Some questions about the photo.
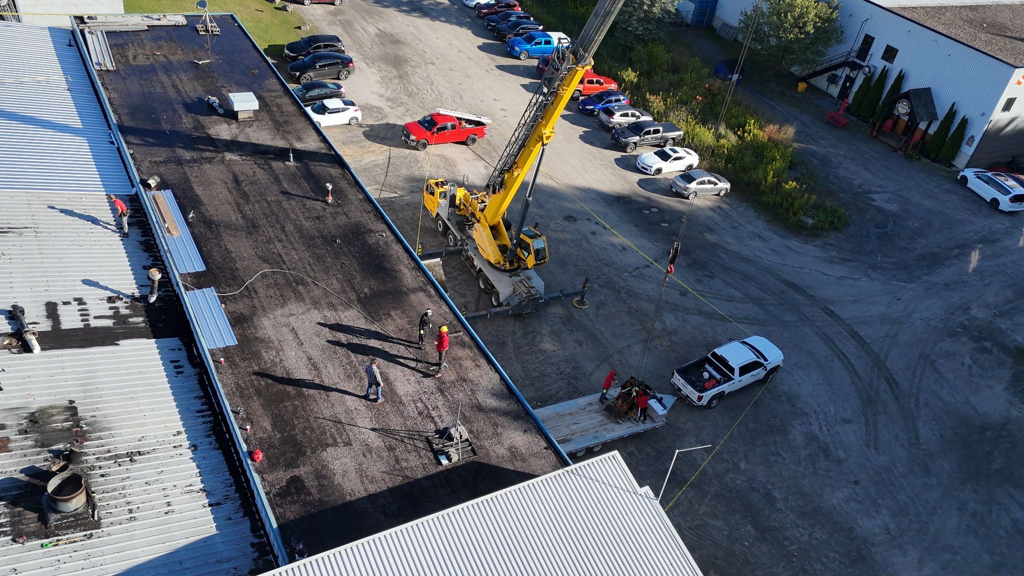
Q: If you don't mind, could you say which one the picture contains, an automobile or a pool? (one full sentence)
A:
I can see an automobile in this picture.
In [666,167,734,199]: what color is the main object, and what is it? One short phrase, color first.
gray car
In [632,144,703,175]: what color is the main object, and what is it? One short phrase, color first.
white car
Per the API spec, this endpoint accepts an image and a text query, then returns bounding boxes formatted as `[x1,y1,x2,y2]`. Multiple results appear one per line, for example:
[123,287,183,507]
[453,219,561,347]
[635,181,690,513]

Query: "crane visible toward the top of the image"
[420,0,631,325]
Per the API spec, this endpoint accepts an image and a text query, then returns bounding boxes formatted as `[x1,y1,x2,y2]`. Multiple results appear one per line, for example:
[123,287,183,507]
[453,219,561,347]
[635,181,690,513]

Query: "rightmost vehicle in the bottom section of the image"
[666,333,788,409]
